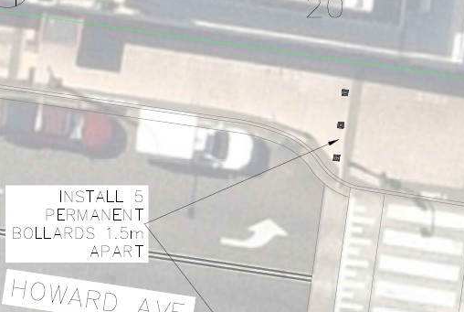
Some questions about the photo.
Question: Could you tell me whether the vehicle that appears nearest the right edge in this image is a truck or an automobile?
truck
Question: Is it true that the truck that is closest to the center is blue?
No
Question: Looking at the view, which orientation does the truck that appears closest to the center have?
from left to right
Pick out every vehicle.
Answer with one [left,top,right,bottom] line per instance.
[0,94,113,150]
[132,107,255,165]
